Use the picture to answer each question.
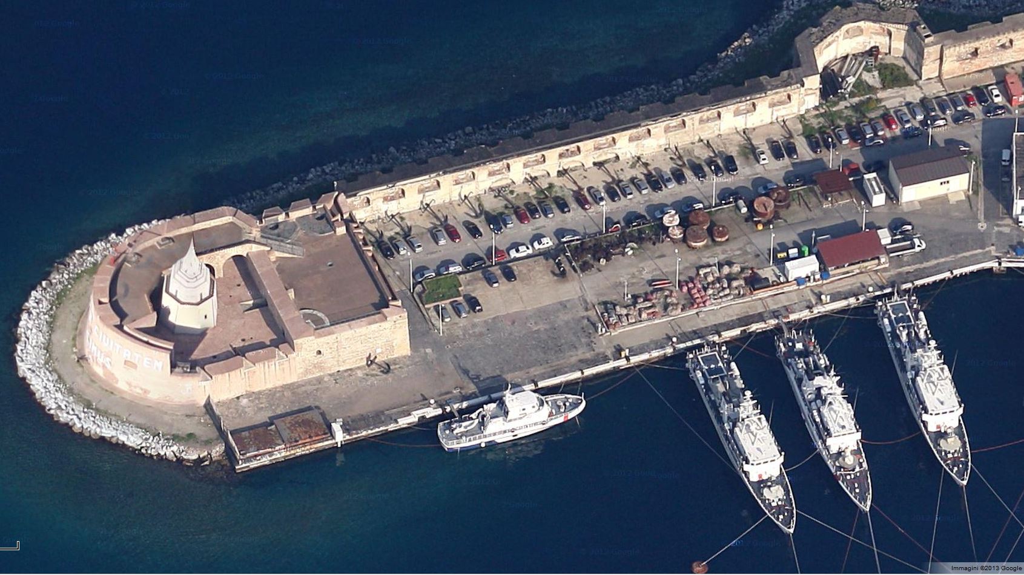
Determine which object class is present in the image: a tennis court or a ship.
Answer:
ship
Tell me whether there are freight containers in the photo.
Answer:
Yes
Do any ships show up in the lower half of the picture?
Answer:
Yes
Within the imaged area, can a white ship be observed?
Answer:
Yes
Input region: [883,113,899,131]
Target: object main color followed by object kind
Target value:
red car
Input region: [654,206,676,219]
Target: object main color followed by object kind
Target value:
blue vehicle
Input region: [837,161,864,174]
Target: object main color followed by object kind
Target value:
red vehicle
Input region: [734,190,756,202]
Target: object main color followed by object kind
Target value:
black vehicle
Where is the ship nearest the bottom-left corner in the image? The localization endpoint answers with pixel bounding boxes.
[436,389,585,453]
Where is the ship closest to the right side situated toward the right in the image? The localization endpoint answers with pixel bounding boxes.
[878,285,968,485]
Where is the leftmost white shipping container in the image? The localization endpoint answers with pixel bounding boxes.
[786,255,821,280]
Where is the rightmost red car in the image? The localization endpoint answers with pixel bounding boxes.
[962,91,980,109]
